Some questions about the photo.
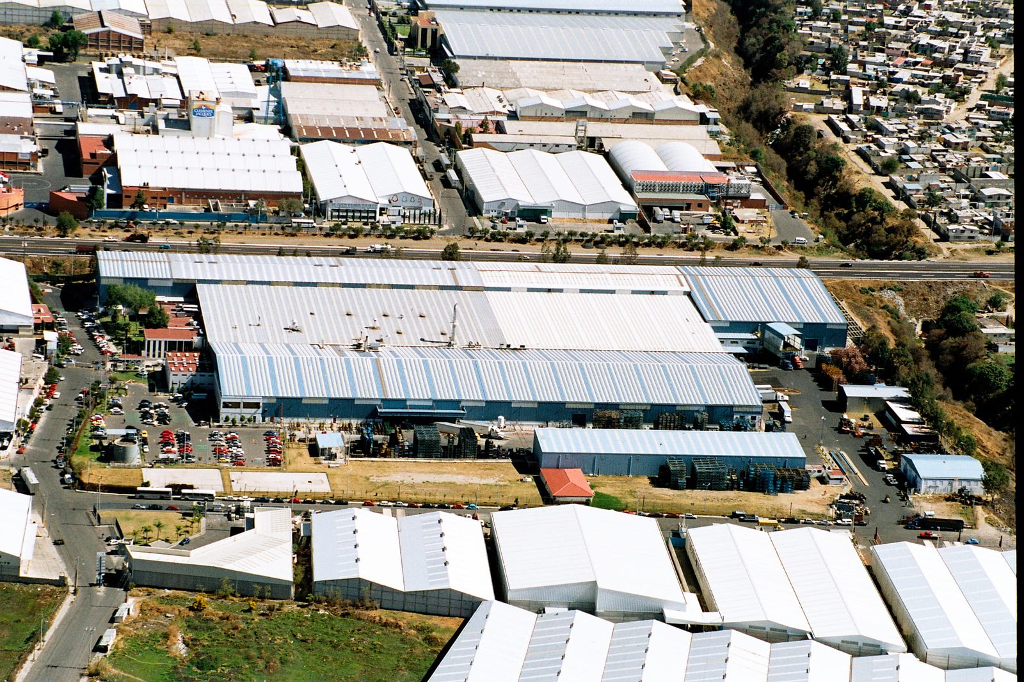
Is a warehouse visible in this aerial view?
Yes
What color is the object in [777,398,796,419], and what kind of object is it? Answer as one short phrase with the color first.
white vehicle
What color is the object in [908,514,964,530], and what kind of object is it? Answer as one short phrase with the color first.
black vehicle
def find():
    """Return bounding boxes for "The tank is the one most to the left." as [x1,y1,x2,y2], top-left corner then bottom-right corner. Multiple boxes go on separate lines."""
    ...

[114,440,139,464]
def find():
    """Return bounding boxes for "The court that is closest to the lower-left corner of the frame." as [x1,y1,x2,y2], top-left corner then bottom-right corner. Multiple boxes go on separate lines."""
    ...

[143,468,224,491]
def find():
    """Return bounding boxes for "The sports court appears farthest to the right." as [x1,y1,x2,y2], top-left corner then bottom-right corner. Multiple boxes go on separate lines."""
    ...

[230,472,331,492]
